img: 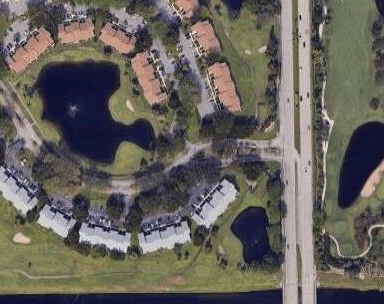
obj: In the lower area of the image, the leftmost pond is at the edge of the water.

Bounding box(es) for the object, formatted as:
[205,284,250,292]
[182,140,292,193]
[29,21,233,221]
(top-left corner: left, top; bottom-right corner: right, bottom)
[232,206,271,262]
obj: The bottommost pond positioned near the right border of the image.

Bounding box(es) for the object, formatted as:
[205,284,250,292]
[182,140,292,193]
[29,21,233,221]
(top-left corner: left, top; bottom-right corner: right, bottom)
[338,121,384,208]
